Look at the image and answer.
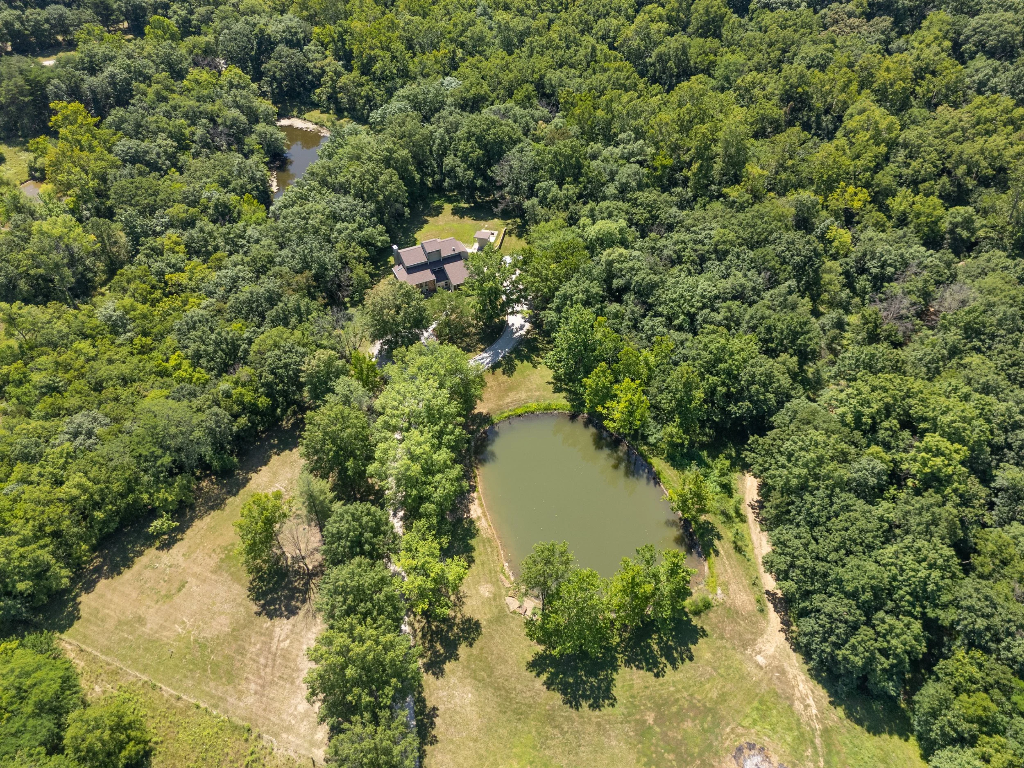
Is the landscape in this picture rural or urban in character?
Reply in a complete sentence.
It looks rural.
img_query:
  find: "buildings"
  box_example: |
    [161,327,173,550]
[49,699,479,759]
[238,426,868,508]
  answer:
[473,229,490,247]
[392,237,470,300]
